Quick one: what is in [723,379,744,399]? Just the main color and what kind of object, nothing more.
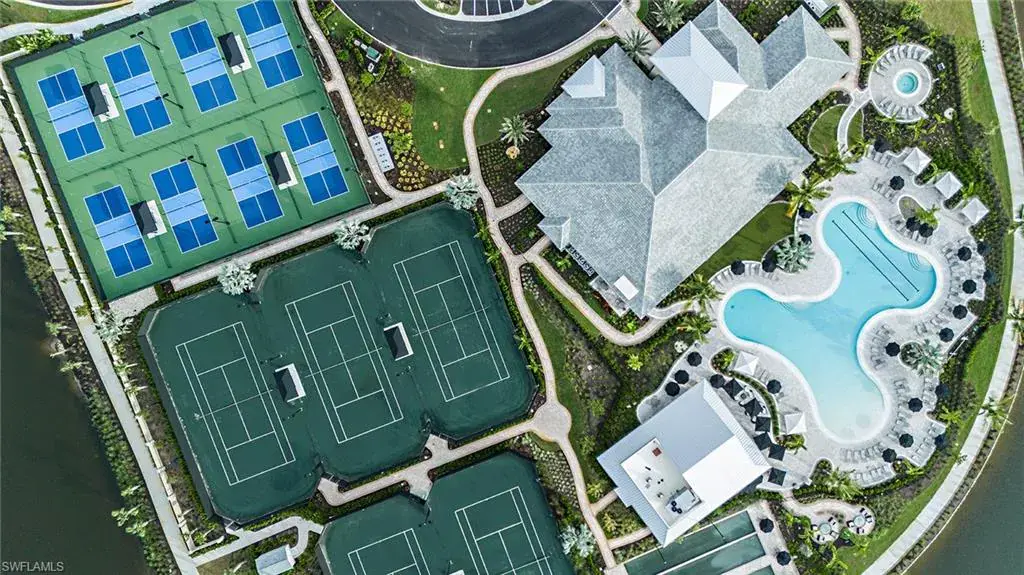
black umbrella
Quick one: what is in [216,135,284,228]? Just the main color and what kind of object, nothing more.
blue sports court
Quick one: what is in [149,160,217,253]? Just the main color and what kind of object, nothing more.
blue sports court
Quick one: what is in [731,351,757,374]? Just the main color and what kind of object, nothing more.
white tent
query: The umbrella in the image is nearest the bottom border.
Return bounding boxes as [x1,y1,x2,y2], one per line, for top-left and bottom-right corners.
[775,550,790,565]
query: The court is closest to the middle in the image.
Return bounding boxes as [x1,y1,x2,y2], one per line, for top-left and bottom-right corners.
[391,238,514,407]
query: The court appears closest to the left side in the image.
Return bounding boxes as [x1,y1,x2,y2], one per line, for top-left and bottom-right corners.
[37,67,105,160]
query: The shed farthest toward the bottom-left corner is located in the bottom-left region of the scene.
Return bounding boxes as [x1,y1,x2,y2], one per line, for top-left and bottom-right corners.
[255,538,300,575]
